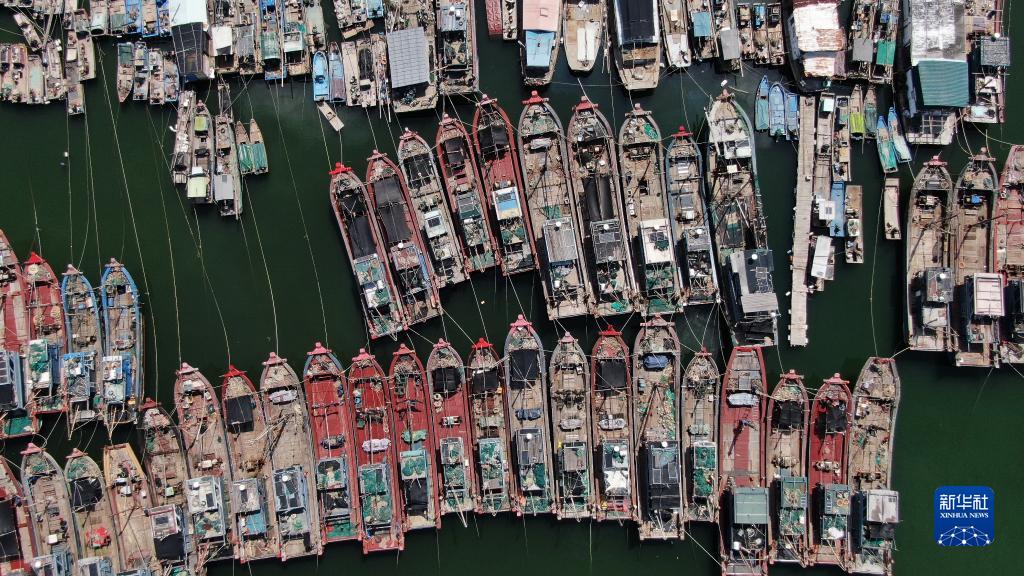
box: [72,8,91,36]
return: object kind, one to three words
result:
boat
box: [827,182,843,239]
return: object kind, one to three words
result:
boat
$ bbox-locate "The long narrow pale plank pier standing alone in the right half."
[788,94,817,346]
